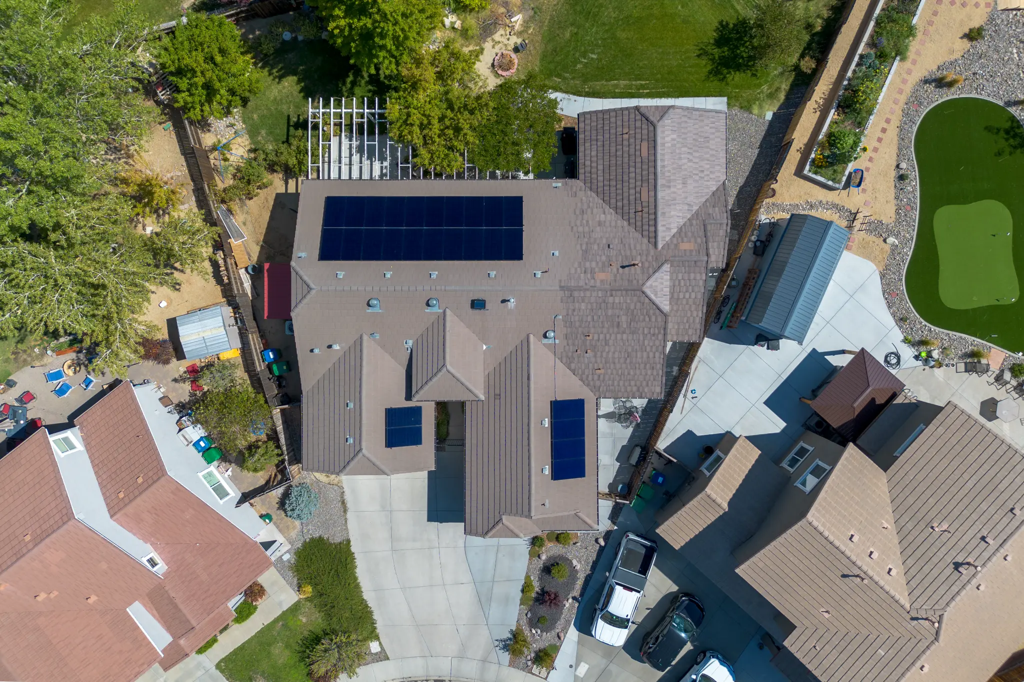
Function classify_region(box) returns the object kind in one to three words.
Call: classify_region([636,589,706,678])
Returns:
car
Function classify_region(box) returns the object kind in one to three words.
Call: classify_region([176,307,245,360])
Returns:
shed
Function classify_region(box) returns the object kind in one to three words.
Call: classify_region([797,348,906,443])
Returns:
gazebo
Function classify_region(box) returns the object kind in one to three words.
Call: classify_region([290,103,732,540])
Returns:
house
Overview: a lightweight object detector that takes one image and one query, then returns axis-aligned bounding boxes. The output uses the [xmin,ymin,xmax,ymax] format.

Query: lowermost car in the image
[677,649,731,682]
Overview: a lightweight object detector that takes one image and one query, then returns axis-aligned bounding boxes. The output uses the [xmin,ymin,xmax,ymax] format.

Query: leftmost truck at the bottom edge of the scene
[595,528,661,649]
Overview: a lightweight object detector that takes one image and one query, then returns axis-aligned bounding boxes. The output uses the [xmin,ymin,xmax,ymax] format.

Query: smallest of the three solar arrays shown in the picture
[385,406,422,448]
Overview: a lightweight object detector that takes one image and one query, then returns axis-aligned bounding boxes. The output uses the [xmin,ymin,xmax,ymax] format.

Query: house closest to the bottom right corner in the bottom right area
[653,391,1024,682]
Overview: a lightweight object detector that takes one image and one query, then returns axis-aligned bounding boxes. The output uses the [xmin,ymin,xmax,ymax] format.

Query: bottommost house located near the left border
[0,379,276,682]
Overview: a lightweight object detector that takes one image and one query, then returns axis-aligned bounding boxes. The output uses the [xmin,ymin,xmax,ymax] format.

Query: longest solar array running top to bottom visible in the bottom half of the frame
[551,399,586,481]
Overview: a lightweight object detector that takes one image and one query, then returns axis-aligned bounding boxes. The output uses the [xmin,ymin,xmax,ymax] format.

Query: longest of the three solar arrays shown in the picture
[318,196,524,260]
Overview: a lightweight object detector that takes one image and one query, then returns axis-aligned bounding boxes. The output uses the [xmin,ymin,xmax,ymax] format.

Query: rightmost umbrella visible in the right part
[992,401,1015,424]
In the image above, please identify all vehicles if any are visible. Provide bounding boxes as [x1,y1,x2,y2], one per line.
[677,649,731,682]
[595,528,661,649]
[636,589,706,678]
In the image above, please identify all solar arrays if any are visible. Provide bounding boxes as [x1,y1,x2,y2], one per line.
[551,399,586,481]
[385,406,422,448]
[318,196,524,260]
